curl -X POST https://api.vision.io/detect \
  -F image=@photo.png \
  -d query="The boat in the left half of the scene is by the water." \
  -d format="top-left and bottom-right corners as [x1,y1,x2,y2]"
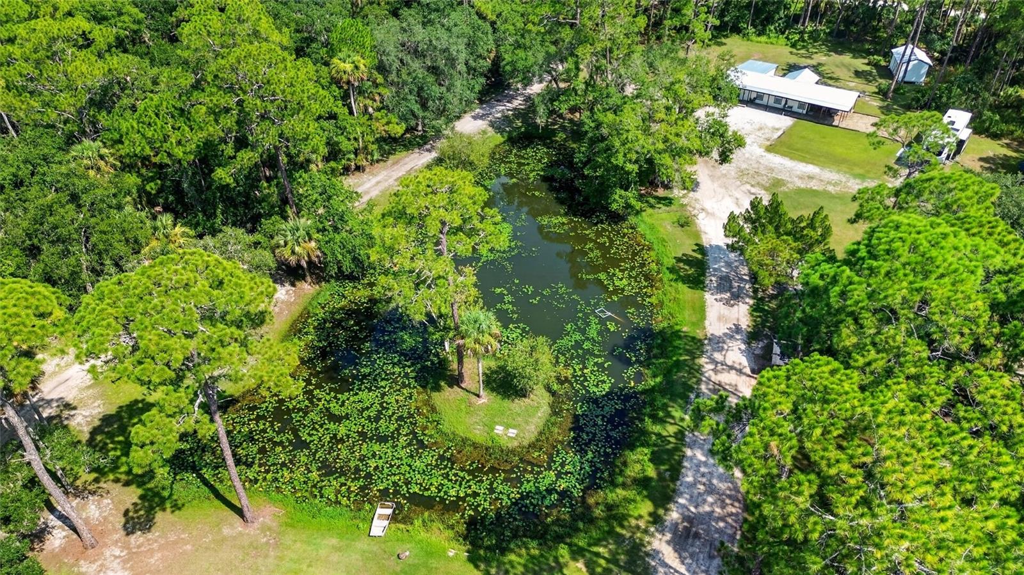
[369,499,393,536]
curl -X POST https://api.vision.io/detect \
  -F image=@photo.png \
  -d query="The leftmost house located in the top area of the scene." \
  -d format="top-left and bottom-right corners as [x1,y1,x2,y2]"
[717,61,865,130]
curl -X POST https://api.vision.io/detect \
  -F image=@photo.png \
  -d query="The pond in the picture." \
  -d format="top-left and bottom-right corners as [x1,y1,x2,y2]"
[191,129,660,546]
